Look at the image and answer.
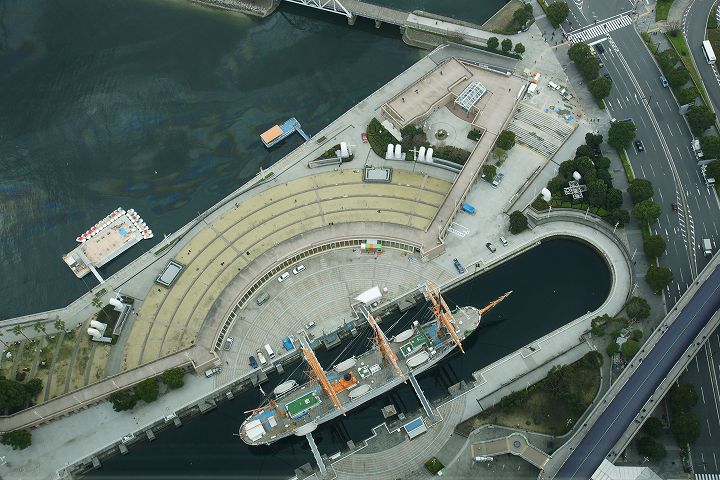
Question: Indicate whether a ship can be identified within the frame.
Yes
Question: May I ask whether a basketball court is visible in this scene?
No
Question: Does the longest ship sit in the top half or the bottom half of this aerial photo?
bottom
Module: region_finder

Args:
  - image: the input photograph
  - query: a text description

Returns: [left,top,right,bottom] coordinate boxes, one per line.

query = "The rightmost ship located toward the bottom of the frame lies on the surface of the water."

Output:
[233,282,510,444]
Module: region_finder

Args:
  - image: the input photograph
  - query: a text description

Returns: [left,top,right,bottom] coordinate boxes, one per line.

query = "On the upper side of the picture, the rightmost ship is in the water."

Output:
[260,118,311,148]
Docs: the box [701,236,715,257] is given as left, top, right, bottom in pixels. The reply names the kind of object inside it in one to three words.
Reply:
vehicle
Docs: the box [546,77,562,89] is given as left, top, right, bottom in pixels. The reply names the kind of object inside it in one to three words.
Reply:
vehicle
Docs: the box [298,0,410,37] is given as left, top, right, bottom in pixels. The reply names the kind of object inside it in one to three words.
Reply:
bridge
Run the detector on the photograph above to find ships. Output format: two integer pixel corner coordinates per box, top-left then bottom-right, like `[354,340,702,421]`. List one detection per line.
[260,118,311,148]
[233,282,510,444]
